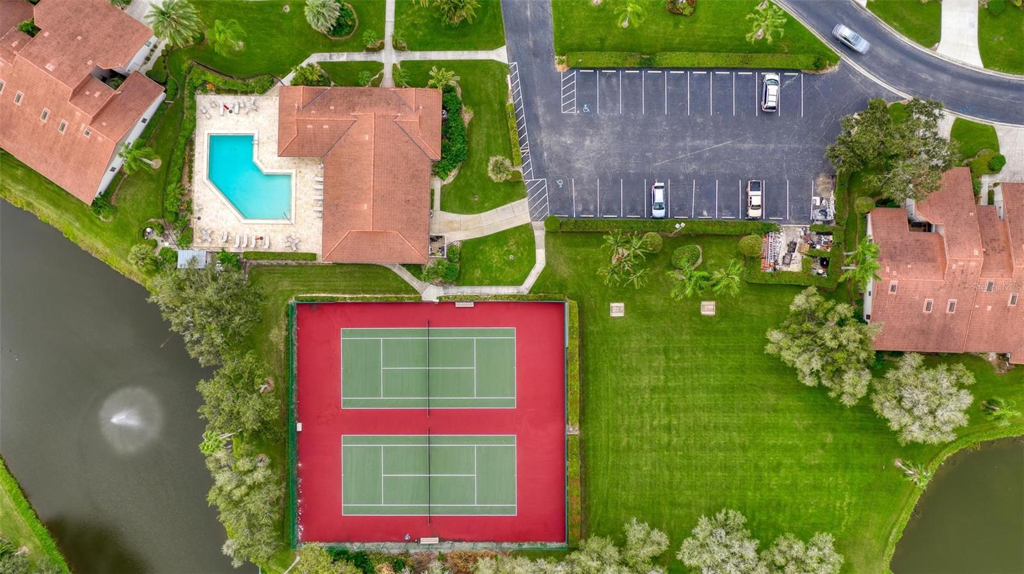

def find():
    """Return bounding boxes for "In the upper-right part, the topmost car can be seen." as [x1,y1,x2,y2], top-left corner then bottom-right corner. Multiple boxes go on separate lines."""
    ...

[833,24,870,52]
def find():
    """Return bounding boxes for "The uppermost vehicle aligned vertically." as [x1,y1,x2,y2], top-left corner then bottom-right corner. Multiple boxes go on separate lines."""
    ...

[761,74,780,112]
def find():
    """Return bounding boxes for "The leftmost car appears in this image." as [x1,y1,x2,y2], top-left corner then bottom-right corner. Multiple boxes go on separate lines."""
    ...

[651,182,666,218]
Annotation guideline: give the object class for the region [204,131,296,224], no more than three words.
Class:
swimming pool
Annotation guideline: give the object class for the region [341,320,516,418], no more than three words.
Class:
tennis court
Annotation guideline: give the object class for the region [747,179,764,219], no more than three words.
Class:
vehicle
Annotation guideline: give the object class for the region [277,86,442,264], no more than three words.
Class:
building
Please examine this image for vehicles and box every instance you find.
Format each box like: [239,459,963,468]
[651,182,666,218]
[833,24,870,52]
[747,179,764,219]
[761,74,780,112]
